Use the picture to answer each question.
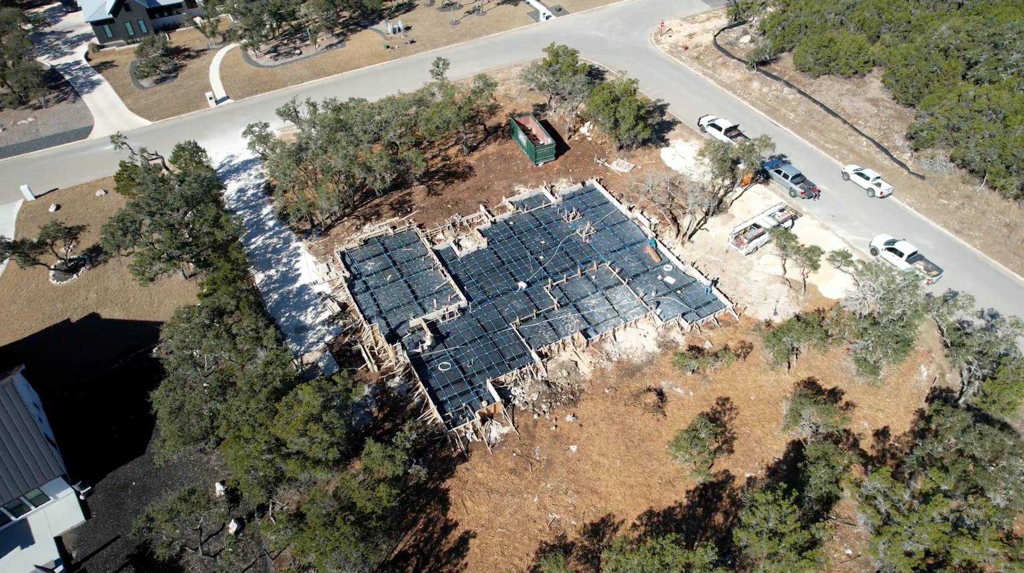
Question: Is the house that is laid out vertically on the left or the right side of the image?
left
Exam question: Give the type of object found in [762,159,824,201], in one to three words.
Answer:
truck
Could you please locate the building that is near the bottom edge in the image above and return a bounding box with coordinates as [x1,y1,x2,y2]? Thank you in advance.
[0,368,88,573]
